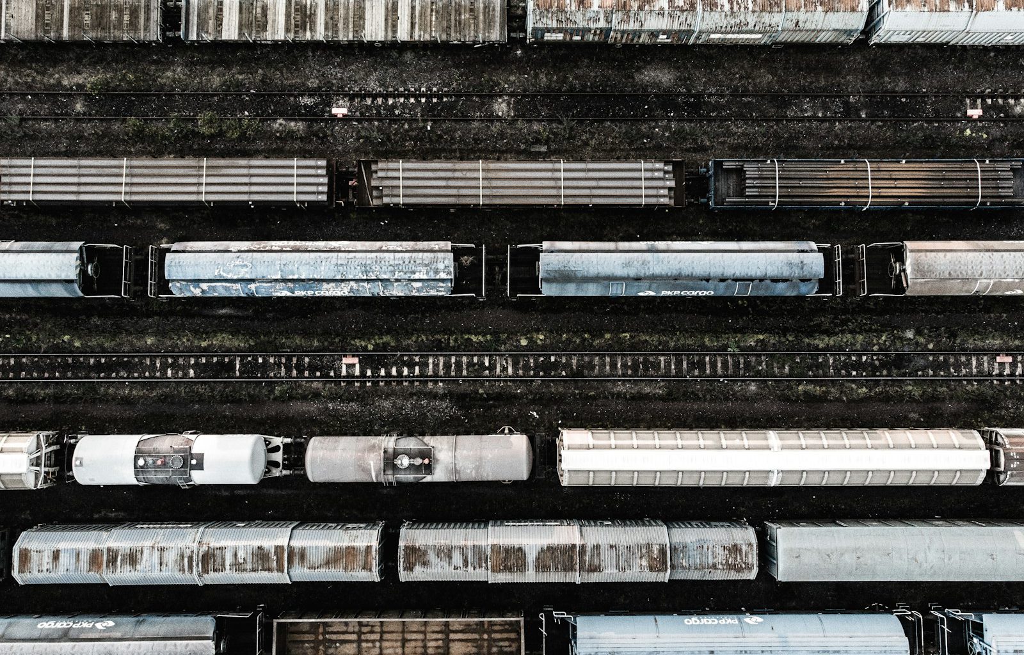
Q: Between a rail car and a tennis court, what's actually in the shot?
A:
rail car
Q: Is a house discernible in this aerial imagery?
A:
No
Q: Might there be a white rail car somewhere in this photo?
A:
Yes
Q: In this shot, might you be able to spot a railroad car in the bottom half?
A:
Yes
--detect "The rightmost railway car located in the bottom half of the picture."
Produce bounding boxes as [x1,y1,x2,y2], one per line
[978,425,1024,488]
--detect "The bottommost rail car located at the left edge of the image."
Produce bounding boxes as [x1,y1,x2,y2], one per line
[0,603,279,655]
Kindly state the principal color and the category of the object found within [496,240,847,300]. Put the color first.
white rail car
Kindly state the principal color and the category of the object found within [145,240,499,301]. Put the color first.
white rail car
